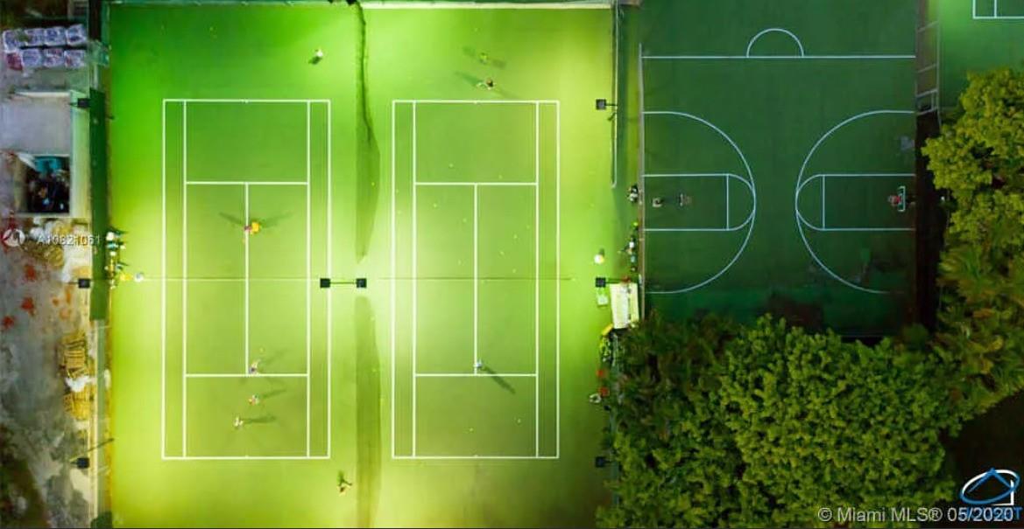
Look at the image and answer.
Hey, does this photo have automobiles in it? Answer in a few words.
No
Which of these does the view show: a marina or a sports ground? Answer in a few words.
sports ground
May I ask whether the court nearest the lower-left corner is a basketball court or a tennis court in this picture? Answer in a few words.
tennis court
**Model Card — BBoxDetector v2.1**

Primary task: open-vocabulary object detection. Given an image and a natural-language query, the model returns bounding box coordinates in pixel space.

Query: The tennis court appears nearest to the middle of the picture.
[392,100,559,458]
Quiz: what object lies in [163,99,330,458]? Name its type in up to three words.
tennis court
